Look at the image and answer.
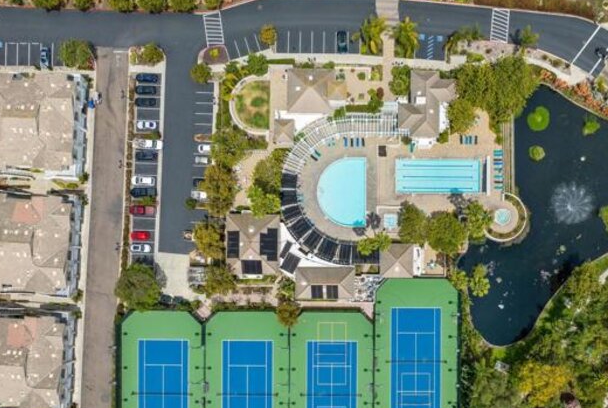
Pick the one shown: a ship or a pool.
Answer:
pool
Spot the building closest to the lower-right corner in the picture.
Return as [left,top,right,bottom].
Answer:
[379,243,422,277]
